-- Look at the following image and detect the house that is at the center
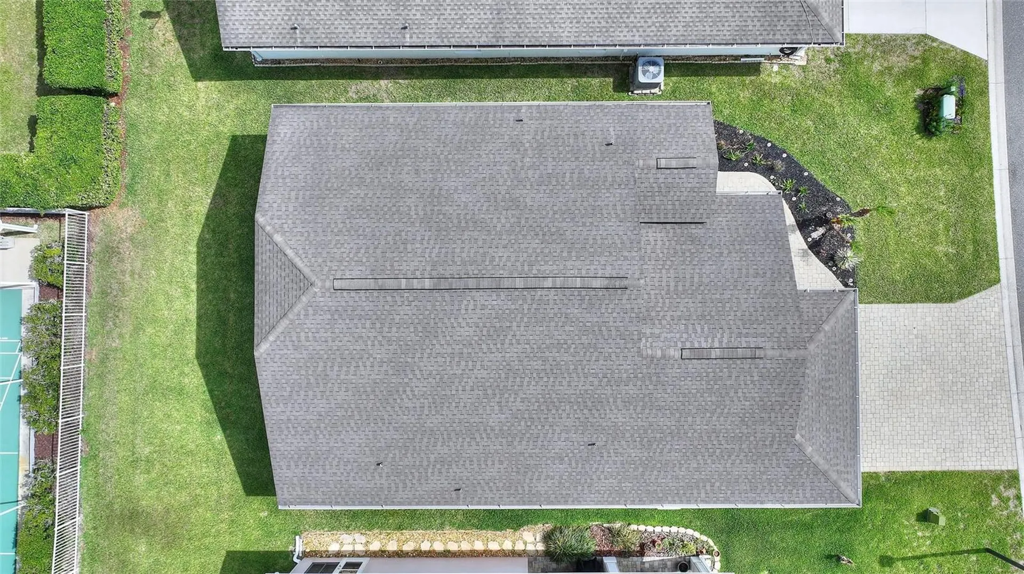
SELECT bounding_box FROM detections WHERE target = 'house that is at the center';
[252,99,864,513]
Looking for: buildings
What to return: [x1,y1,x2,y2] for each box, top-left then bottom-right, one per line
[266,535,734,574]
[252,99,864,513]
[215,0,844,64]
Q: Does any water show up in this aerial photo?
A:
No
